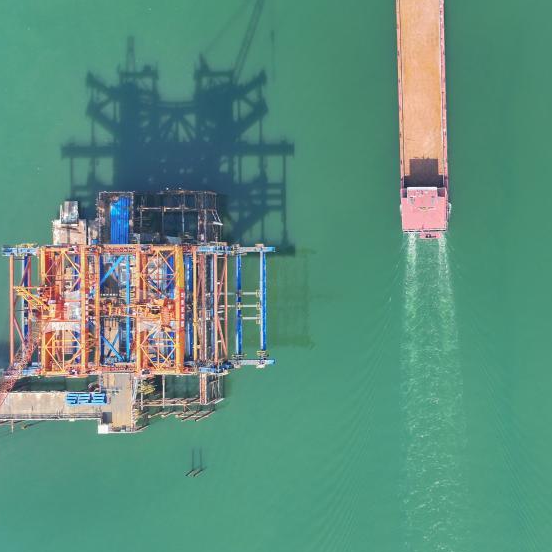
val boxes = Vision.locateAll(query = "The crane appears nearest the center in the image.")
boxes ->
[118,243,200,376]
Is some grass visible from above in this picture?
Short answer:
No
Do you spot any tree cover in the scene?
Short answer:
No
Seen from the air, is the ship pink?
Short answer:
Yes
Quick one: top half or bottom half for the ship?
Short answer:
top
